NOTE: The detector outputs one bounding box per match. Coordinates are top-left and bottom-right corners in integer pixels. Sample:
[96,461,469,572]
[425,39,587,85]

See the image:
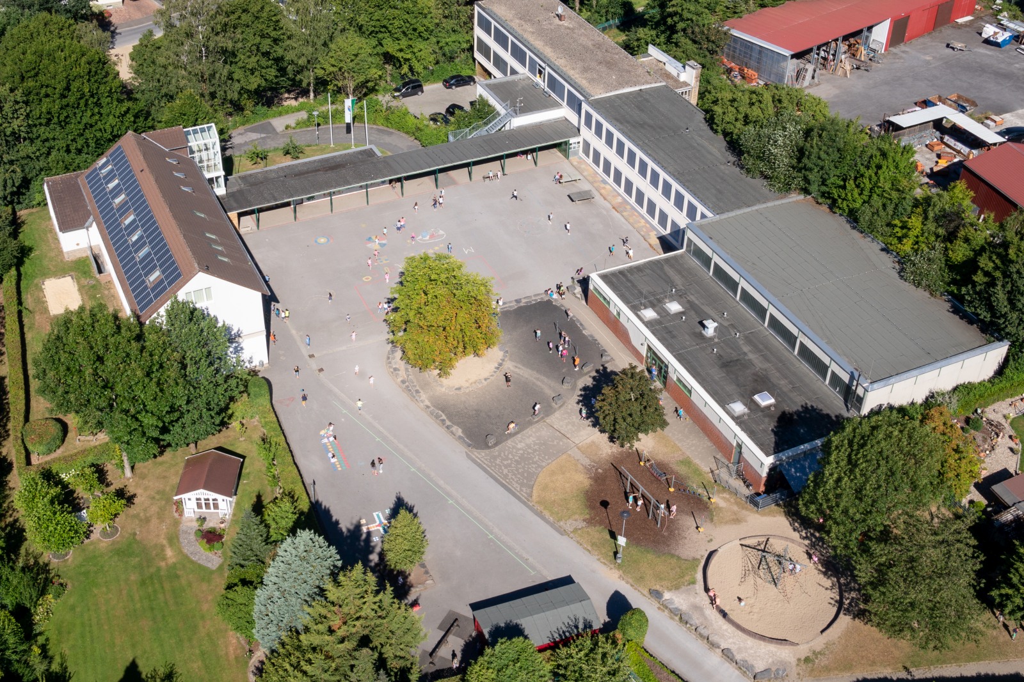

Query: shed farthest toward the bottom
[476,581,607,666]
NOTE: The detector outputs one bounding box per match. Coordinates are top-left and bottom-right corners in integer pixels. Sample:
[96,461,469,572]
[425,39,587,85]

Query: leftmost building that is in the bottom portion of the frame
[172,440,244,521]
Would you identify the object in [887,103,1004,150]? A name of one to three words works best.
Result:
shed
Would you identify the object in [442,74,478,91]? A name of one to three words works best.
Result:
car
